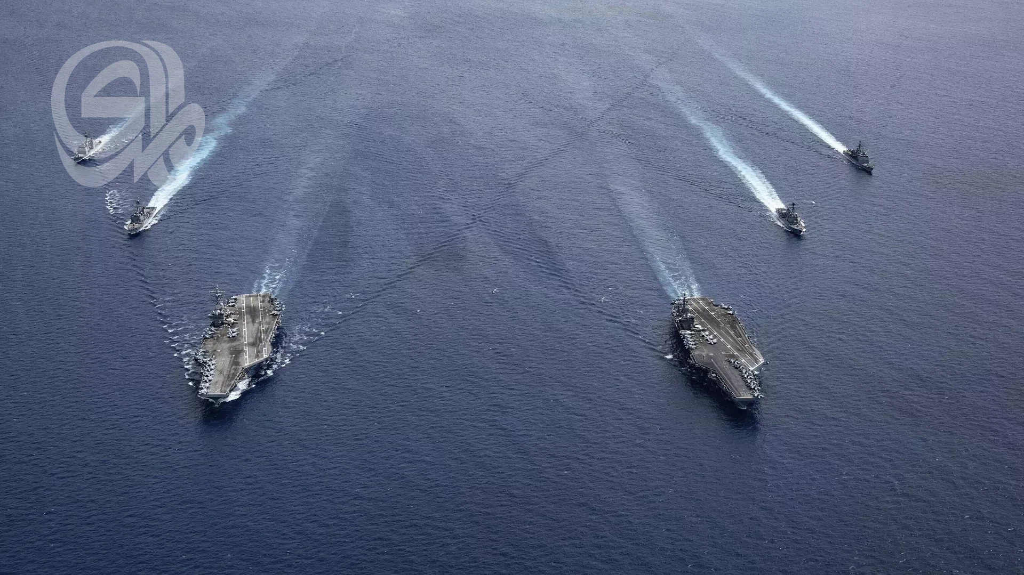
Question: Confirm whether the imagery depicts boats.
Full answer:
Yes, a boat is visible in the scene.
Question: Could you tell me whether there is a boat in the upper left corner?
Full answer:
Yes, a boat appears in the upper left corner.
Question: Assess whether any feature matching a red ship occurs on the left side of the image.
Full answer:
No, no red ship can be made out on the left side of the image.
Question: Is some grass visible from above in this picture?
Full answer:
No, grass can't be seen anywhere here.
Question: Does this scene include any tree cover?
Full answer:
No, the scene doesn't show any tree cover.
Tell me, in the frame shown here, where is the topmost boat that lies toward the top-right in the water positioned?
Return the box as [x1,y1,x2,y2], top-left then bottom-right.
[842,140,874,172]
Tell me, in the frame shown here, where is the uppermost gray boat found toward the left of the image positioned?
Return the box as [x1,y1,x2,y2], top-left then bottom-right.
[73,130,101,164]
